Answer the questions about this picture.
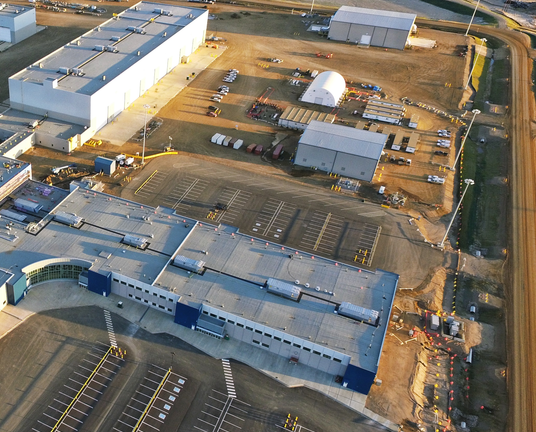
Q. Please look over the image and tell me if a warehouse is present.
Yes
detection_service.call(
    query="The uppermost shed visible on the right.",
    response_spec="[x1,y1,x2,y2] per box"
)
[327,6,417,49]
